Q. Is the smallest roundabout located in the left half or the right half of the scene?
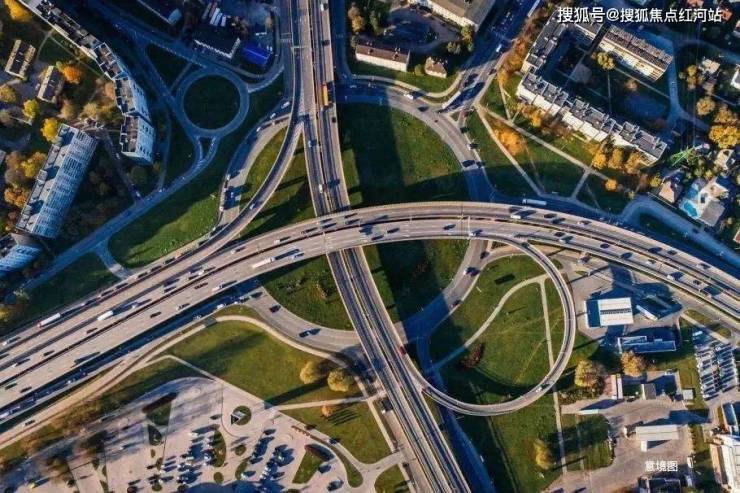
left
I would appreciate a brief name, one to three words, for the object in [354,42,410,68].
house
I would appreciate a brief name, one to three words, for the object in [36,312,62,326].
vehicle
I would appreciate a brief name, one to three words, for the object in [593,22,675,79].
building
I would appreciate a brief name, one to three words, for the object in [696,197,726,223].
house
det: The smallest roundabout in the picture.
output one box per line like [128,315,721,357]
[176,66,248,138]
